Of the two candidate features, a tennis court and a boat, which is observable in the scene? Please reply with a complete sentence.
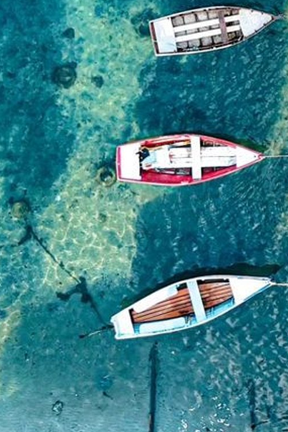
Of the two, only a boat appears.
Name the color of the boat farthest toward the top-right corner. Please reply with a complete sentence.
From above, the boat farthest toward the top-right corner appears white.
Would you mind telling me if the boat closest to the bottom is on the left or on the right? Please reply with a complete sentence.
The boat closest to the bottom is on the right side of the image.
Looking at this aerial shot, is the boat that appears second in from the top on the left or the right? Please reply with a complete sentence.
You can find the boat that appears second in from the top on the right side of the picture.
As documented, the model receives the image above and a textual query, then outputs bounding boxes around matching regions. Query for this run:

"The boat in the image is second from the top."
[114,134,267,187]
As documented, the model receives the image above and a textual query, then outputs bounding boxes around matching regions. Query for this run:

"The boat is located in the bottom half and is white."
[109,277,273,339]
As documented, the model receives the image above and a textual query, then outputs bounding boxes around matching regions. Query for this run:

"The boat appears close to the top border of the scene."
[148,6,278,57]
